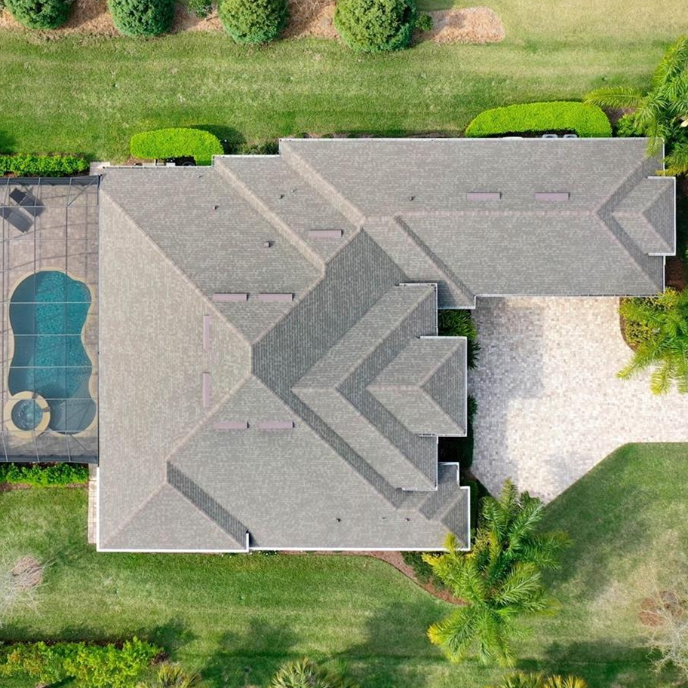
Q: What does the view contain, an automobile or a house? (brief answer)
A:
house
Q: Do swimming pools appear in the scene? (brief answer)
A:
Yes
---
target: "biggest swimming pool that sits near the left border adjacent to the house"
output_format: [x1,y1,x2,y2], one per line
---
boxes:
[4,265,97,441]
